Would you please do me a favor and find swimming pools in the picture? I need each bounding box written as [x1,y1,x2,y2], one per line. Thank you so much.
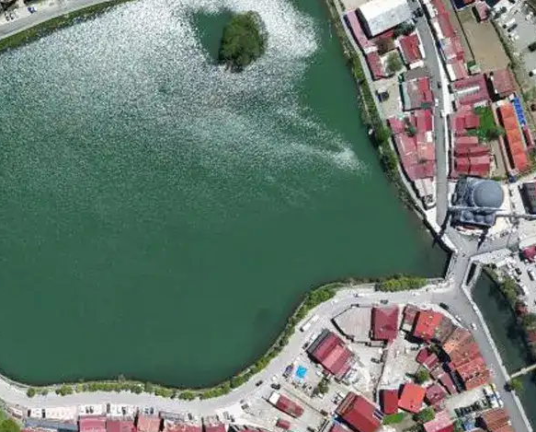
[294,365,307,379]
